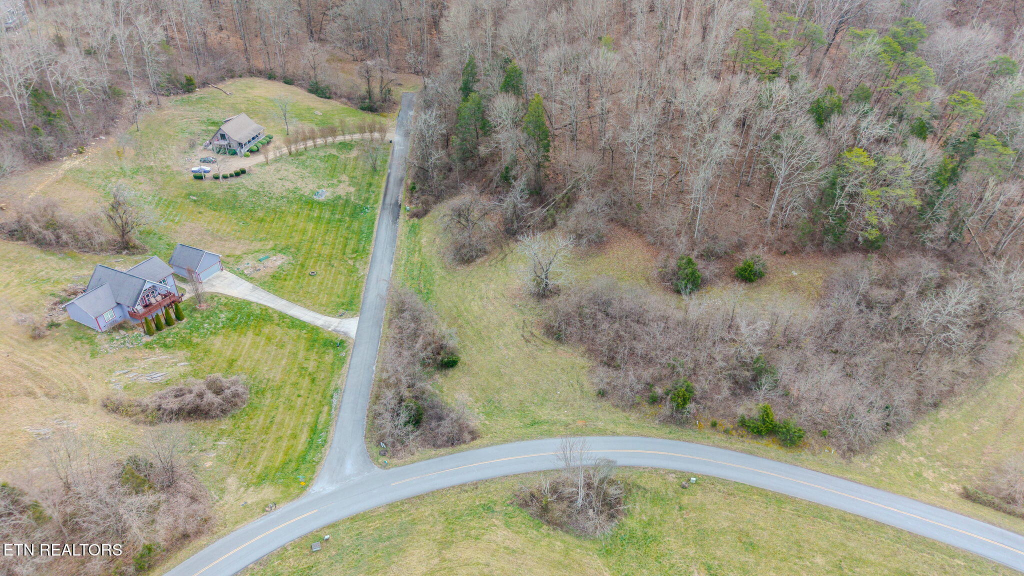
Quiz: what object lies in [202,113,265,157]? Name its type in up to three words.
house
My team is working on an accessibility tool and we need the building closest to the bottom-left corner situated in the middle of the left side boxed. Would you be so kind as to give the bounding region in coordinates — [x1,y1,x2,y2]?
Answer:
[62,256,187,332]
